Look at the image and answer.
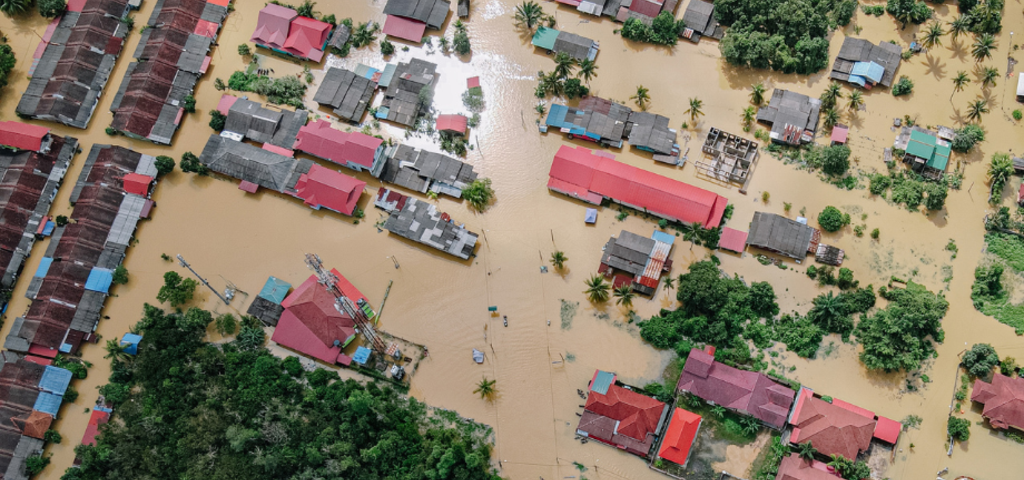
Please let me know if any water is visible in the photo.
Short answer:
Yes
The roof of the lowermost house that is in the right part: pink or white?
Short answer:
pink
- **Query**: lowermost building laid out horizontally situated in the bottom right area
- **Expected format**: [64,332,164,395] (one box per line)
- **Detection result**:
[777,452,846,480]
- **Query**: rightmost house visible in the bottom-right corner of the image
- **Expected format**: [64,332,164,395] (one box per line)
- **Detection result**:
[969,373,1024,437]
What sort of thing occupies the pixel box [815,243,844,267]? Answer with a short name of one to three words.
shed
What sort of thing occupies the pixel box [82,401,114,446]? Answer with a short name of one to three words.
house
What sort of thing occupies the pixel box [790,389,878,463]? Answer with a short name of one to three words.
house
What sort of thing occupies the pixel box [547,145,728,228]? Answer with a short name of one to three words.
building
